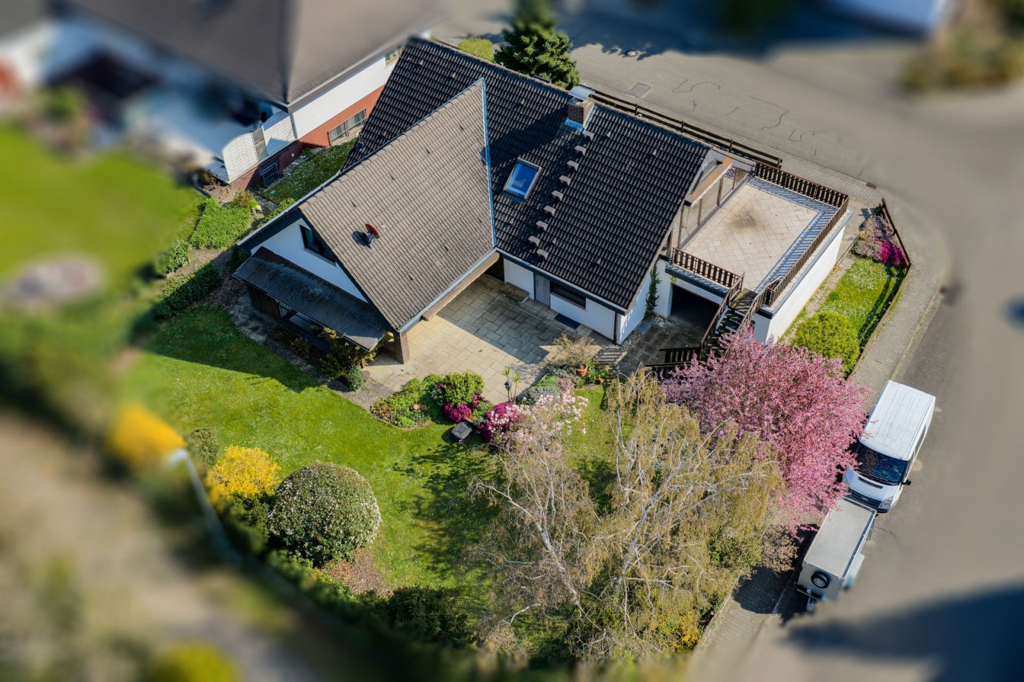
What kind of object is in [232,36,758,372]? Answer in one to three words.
house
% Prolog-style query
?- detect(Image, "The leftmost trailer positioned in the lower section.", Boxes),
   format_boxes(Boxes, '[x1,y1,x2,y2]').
[790,492,874,623]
